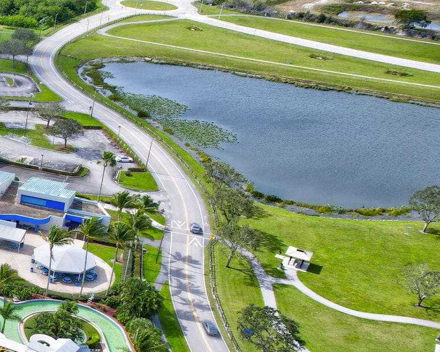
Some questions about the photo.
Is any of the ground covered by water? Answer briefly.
Yes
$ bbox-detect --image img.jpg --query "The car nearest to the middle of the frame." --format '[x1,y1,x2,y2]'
[189,220,203,234]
